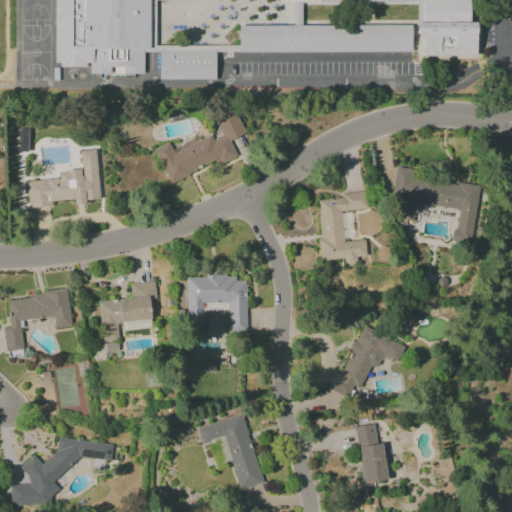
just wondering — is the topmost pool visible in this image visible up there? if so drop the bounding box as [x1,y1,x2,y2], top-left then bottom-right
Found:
[164,119,192,138]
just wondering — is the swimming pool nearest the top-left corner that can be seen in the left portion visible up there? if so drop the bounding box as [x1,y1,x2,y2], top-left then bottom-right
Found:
[42,146,72,166]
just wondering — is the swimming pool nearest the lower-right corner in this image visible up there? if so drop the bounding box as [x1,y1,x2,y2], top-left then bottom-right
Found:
[418,432,432,459]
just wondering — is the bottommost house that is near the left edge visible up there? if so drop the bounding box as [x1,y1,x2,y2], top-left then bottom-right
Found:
[12,438,115,503]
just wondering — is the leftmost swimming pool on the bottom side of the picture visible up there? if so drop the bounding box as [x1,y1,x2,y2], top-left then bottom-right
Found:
[31,328,58,354]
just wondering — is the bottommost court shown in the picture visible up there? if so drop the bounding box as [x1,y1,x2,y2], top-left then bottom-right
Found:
[54,364,88,414]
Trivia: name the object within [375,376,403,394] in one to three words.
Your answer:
swimming pool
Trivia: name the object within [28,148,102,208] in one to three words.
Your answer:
house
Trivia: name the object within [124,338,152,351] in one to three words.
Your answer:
swimming pool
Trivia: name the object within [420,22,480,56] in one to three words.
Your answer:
building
